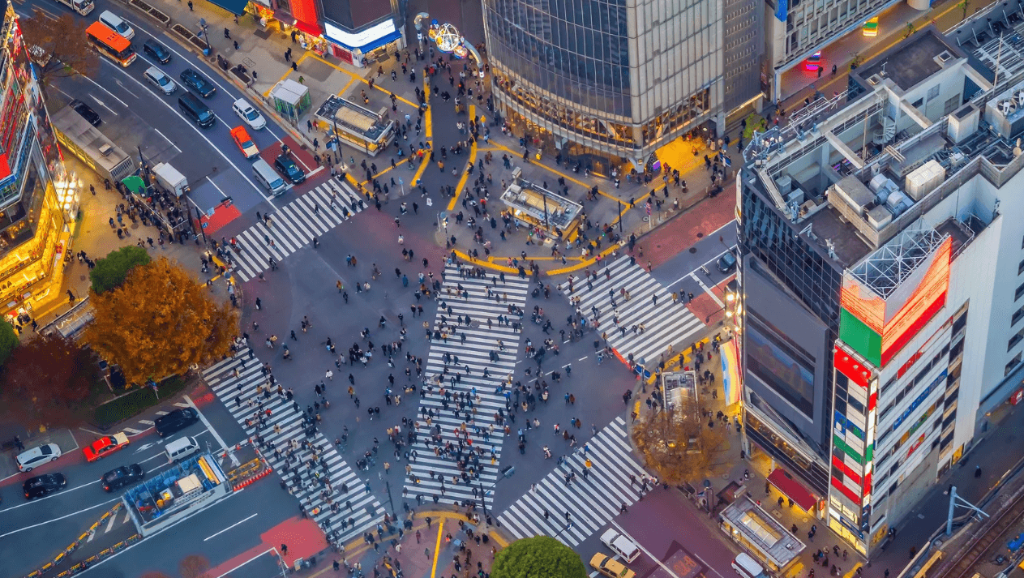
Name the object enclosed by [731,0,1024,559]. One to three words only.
building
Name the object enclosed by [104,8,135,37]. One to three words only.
vehicle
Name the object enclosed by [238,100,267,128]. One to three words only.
car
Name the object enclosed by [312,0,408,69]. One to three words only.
building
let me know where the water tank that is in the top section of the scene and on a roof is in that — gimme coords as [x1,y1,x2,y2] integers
[906,160,945,205]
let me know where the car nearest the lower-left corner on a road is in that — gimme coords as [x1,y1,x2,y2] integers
[19,470,67,497]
